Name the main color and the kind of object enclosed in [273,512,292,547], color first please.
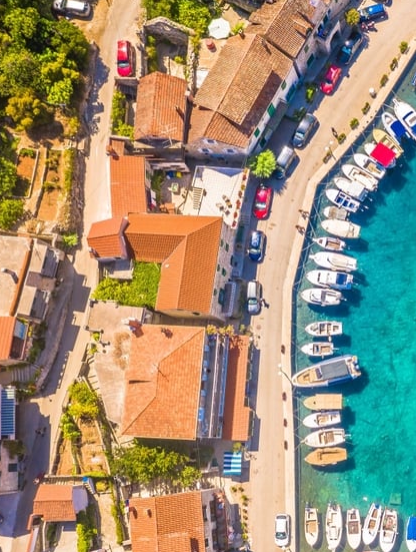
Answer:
white car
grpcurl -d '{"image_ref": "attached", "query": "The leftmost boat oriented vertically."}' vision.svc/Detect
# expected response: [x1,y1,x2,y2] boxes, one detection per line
[304,503,320,552]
